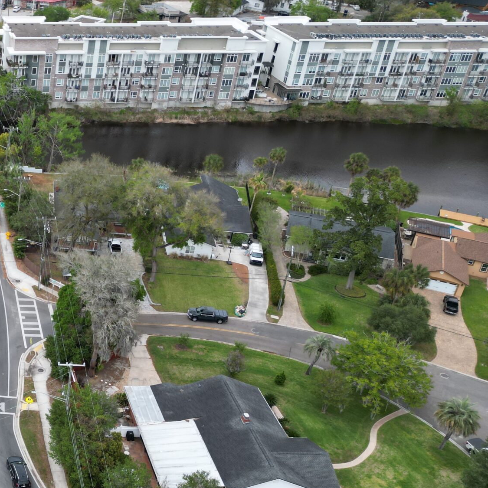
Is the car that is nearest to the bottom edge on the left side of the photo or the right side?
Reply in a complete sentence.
The car that is nearest to the bottom edge is on the left side of the image.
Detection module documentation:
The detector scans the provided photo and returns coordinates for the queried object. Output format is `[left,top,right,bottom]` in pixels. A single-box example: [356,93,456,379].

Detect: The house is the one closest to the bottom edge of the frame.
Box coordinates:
[151,376,339,488]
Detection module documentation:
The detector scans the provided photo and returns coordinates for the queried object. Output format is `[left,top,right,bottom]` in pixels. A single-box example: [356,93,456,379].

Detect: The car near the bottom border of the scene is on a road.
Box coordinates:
[4,453,35,488]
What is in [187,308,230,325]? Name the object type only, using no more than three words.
vehicle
